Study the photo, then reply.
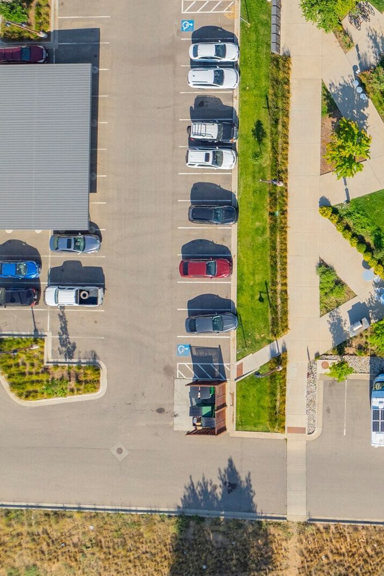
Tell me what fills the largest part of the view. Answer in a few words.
paved ground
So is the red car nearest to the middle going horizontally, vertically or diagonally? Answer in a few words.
horizontally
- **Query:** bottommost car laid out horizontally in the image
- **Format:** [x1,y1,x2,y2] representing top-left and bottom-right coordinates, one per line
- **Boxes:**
[186,311,239,335]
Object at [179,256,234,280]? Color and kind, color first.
red car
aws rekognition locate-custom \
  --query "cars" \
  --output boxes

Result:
[179,256,234,280]
[50,232,104,255]
[0,259,45,280]
[188,203,239,225]
[186,311,239,335]
[186,65,240,90]
[190,40,240,64]
[184,146,238,169]
[0,285,43,308]
[187,119,239,144]
[0,43,50,63]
